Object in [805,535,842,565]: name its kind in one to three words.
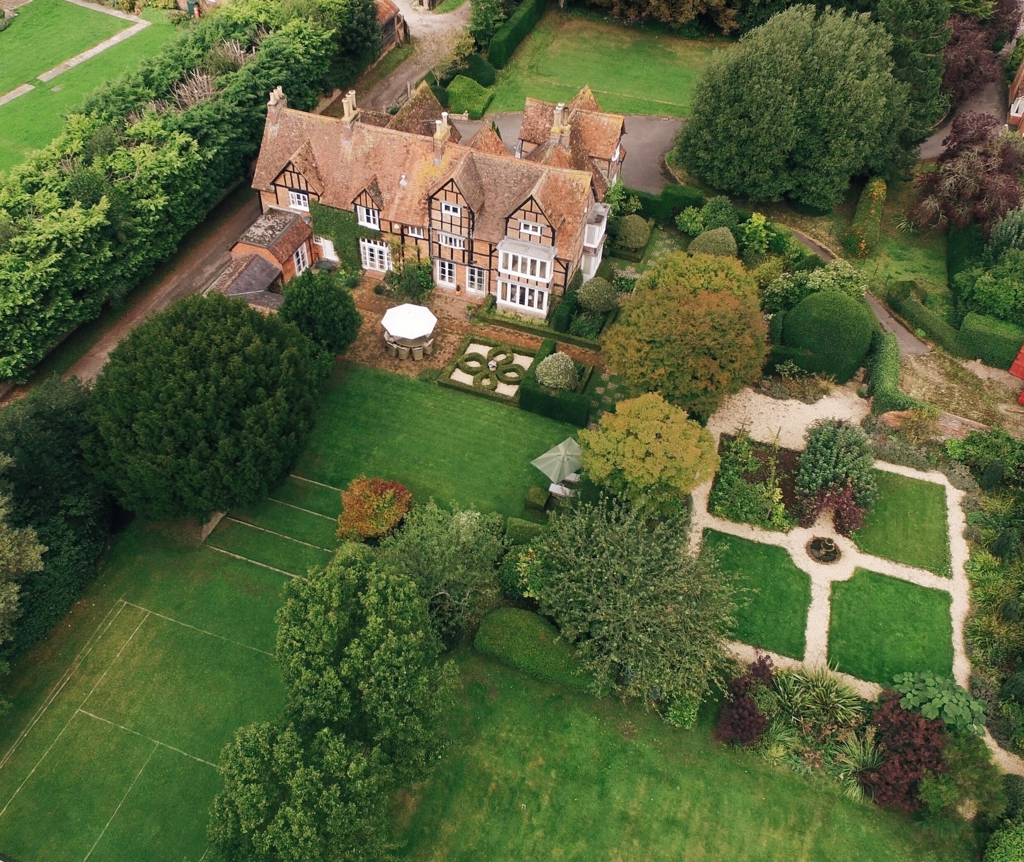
fountain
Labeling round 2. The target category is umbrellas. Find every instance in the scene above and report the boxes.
[380,297,438,334]
[531,436,585,484]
